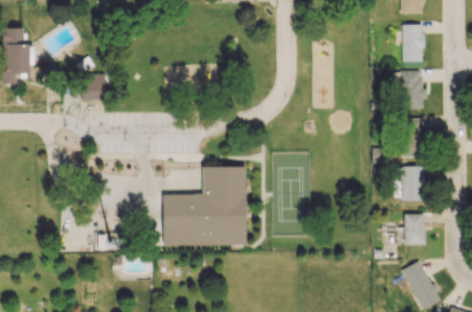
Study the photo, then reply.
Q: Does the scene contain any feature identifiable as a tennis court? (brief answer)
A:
Yes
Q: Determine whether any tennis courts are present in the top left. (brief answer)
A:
No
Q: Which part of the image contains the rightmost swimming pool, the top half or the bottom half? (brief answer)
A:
bottom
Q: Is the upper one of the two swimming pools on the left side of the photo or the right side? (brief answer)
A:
left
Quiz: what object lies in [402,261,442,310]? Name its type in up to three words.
house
